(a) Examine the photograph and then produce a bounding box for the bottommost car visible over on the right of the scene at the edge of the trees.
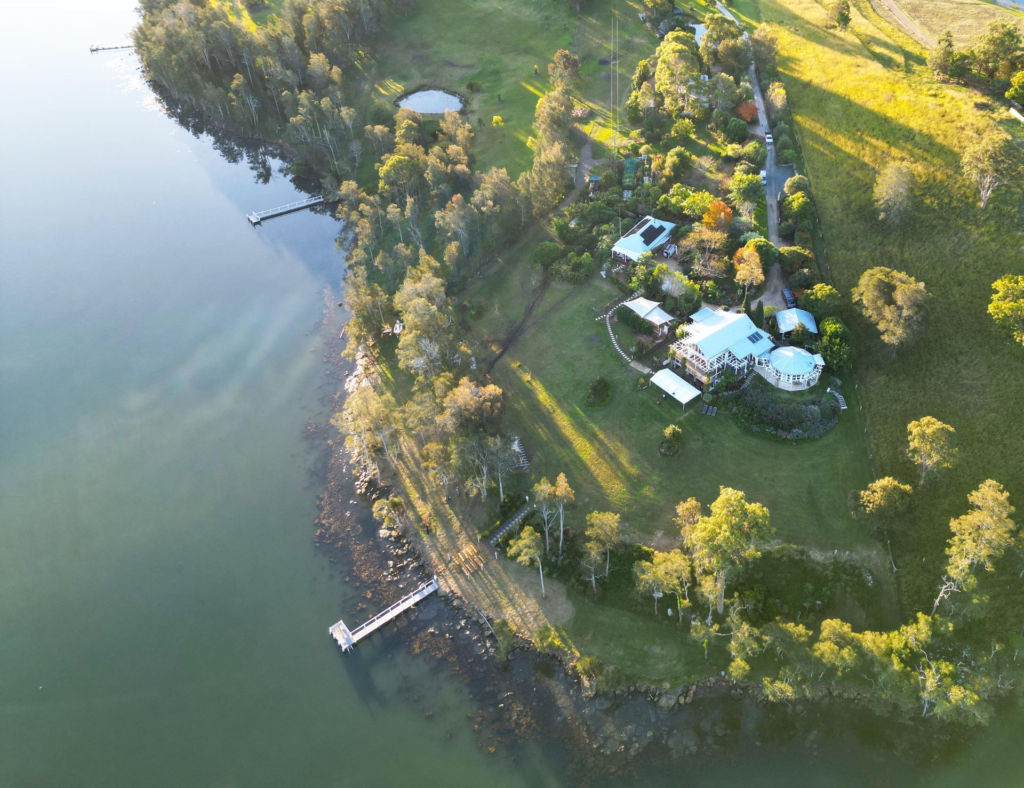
[779,286,801,308]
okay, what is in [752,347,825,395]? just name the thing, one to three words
building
